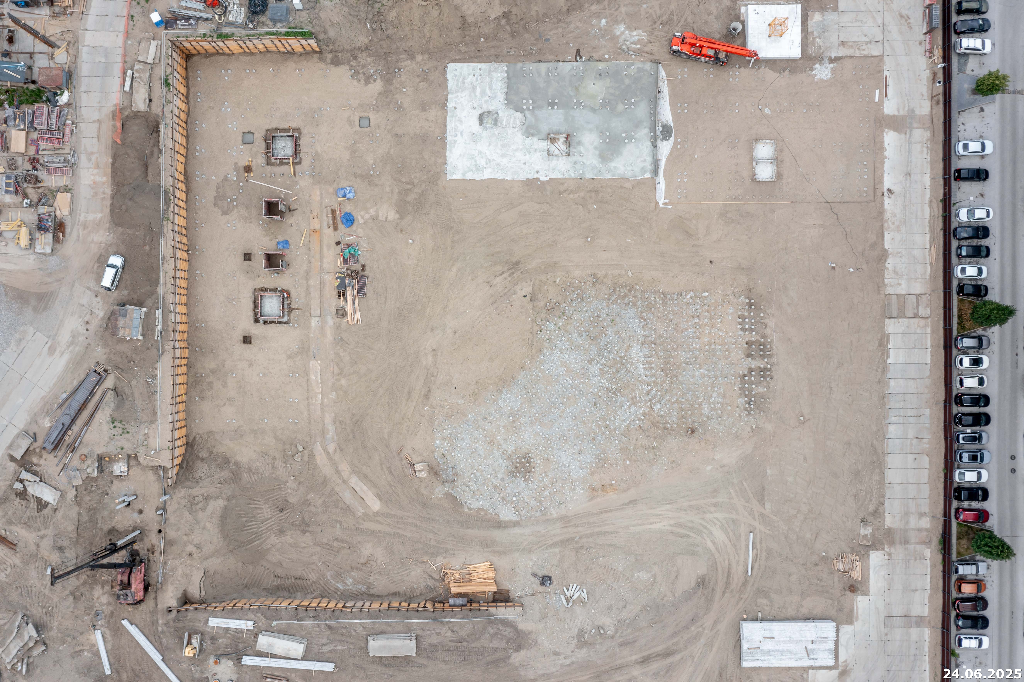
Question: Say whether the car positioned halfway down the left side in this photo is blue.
No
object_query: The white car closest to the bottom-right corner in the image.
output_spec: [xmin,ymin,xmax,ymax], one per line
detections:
[953,633,990,650]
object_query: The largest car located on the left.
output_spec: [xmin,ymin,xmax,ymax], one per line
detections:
[96,254,125,295]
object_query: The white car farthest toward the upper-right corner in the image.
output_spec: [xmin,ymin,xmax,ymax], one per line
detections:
[953,37,990,56]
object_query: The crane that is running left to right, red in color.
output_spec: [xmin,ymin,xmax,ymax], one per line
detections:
[665,33,761,67]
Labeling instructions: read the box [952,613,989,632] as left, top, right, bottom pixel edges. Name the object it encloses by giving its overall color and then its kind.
black car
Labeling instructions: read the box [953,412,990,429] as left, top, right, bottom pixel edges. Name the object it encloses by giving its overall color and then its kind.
black car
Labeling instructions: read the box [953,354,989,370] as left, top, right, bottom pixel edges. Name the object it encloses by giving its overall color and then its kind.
white car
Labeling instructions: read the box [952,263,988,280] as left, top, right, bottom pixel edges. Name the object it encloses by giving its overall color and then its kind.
white car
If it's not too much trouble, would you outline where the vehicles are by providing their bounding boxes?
[953,334,990,351]
[954,486,989,504]
[952,283,989,299]
[953,594,988,613]
[953,243,991,260]
[952,16,990,36]
[953,374,987,390]
[954,206,993,223]
[952,224,989,241]
[954,468,988,484]
[953,507,989,525]
[953,560,987,577]
[96,254,125,295]
[953,633,990,650]
[952,165,989,183]
[953,578,986,596]
[954,139,992,156]
[954,430,989,447]
[953,37,990,56]
[954,448,990,466]
[952,263,988,280]
[953,412,990,429]
[952,613,989,632]
[953,392,989,409]
[953,354,989,370]
[953,0,987,16]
